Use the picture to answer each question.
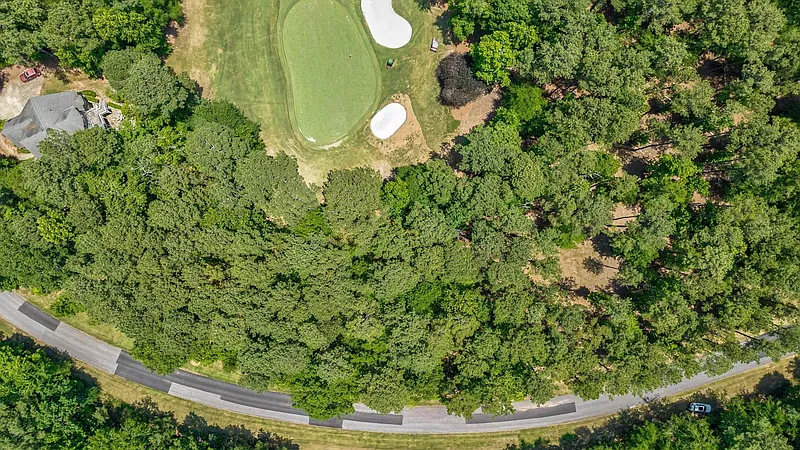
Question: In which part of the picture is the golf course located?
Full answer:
The golf course is located in the top region of the scene.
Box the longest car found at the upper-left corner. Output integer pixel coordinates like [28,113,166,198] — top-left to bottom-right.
[17,66,40,82]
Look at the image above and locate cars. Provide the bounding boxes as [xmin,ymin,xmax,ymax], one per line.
[690,402,712,414]
[17,66,40,82]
